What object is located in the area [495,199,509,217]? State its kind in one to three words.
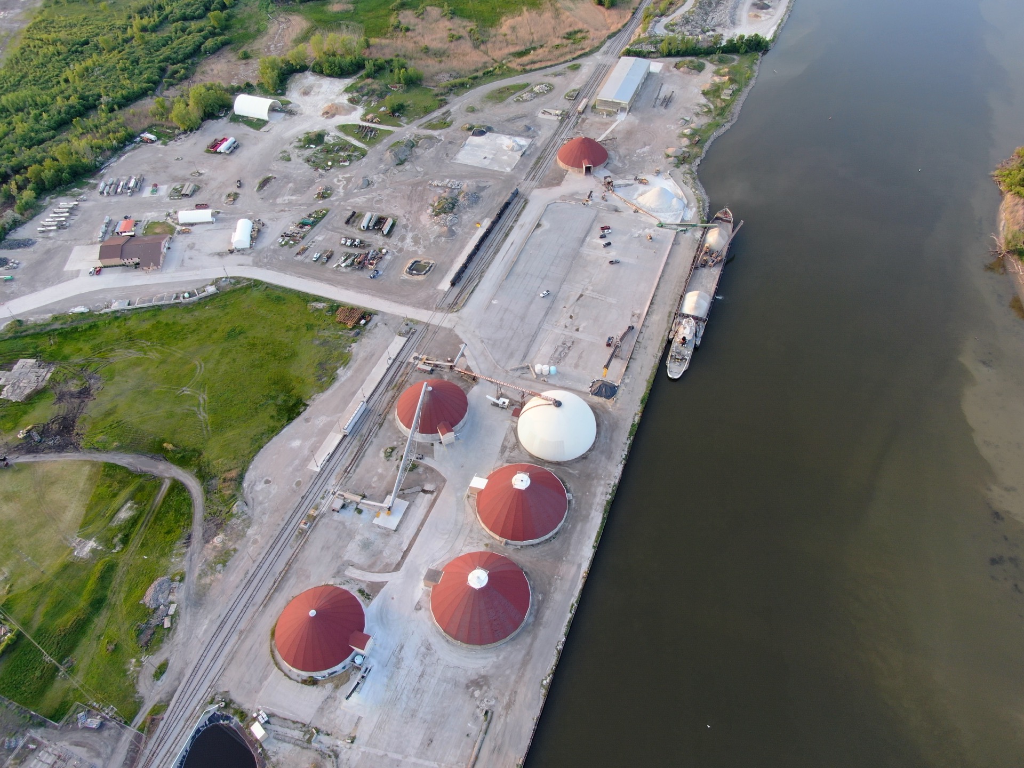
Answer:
rail car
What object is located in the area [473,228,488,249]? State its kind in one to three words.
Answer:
rail car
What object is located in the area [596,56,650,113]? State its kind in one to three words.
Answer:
building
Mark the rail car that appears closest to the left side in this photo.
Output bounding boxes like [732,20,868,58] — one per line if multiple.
[340,395,367,432]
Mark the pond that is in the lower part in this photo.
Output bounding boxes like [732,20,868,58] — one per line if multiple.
[173,702,268,768]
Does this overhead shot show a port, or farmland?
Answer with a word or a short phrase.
port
